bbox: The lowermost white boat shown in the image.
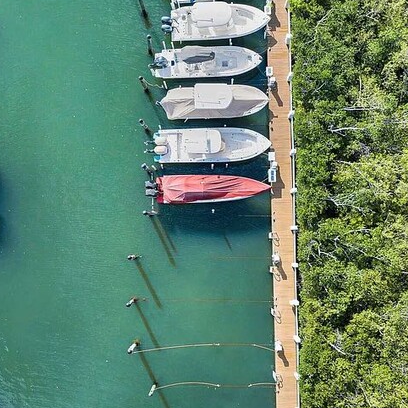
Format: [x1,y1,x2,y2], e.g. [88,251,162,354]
[144,123,272,164]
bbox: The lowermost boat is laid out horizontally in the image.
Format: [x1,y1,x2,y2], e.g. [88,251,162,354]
[146,174,271,204]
